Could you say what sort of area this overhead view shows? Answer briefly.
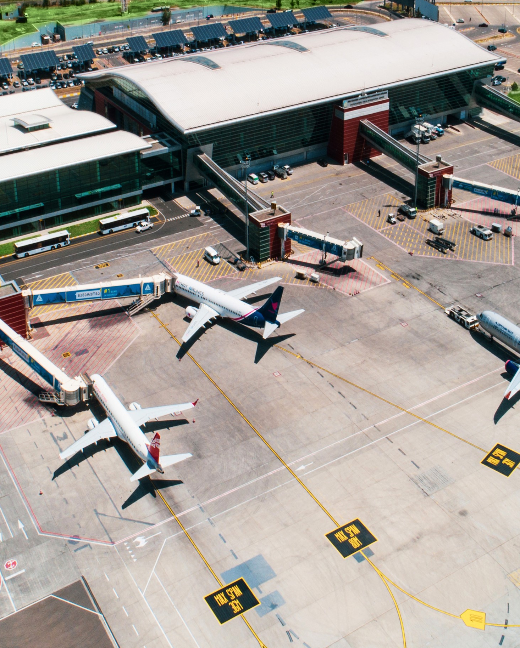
airport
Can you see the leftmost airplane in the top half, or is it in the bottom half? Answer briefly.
bottom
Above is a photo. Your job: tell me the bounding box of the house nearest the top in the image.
[0,1,23,19]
